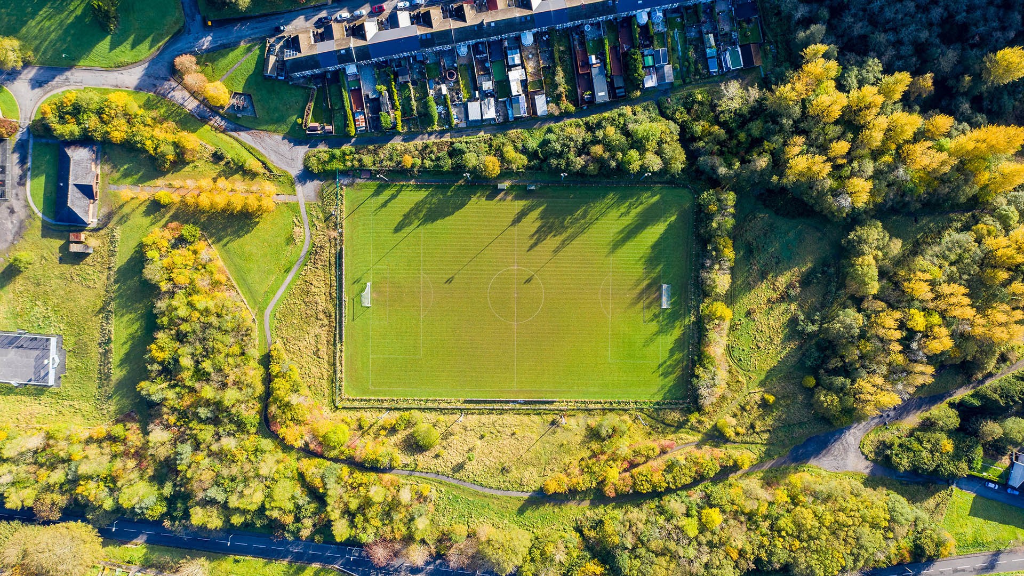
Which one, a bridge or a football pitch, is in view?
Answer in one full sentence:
I can see a football pitch in this picture.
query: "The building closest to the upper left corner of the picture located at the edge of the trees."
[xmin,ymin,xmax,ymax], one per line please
[55,145,104,225]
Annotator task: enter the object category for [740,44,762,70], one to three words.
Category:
building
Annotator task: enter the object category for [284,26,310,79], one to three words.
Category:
house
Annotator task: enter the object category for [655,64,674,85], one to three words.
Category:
building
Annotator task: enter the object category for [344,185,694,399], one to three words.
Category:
soccer field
